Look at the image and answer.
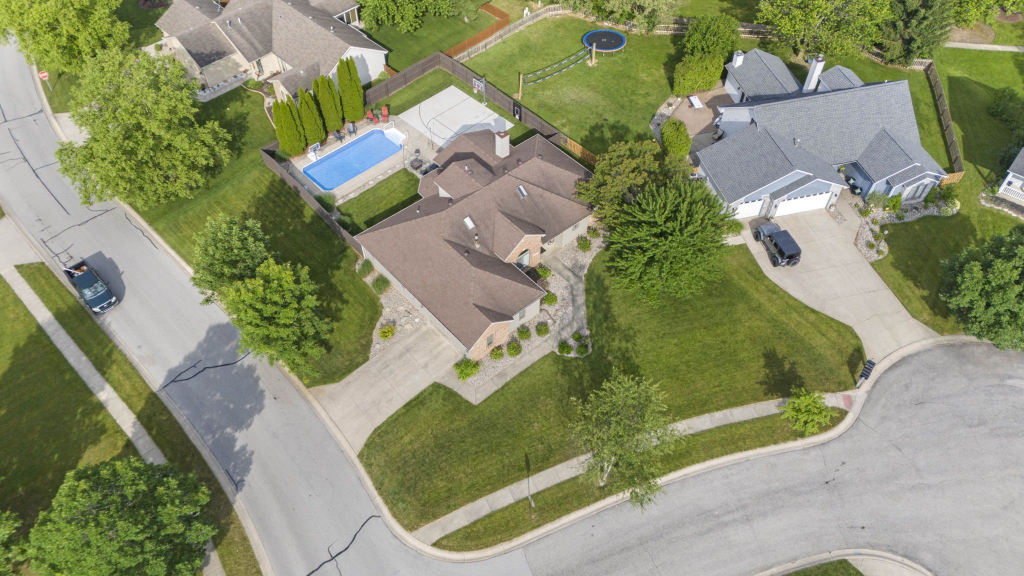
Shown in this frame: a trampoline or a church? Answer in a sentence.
This aerial view contains a trampoline.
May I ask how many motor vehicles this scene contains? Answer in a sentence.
Looking from above, you can make out 2 motor vehicles.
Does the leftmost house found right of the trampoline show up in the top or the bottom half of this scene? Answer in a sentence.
It is in the top half that the leftmost house found right of the trampoline appears.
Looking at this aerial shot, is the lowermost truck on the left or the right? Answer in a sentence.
It is on the left.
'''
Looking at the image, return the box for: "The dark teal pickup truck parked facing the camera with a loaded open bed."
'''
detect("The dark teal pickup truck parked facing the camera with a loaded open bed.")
[63,261,117,315]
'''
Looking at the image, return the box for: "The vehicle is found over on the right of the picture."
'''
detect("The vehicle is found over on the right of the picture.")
[753,224,802,267]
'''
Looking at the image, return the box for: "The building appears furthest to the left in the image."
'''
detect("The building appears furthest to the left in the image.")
[128,0,389,106]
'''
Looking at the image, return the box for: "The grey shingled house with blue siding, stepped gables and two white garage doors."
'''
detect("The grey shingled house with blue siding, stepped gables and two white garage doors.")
[695,48,949,220]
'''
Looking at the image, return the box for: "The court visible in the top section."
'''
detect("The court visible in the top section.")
[396,85,514,149]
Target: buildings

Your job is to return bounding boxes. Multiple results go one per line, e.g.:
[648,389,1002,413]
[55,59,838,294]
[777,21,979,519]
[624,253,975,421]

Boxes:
[128,0,389,106]
[353,128,614,363]
[695,48,949,220]
[998,151,1024,207]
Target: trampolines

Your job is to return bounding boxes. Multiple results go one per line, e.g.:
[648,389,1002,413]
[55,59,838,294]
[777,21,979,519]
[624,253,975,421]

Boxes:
[583,31,626,62]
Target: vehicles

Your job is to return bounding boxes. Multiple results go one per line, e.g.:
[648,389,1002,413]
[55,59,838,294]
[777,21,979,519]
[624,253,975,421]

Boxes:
[63,261,117,315]
[753,224,802,267]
